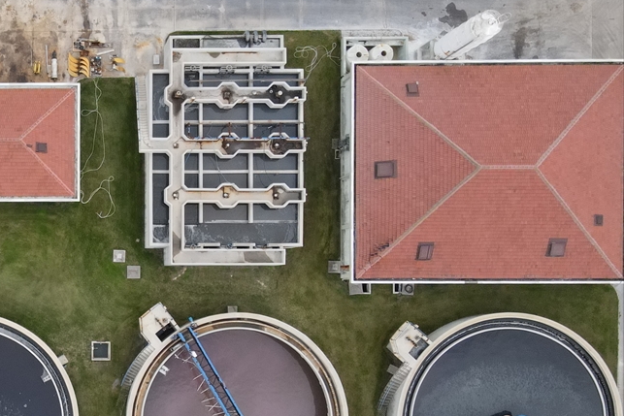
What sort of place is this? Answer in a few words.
industrial area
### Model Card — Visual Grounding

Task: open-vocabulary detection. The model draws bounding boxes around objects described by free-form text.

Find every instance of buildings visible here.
[0,84,81,203]
[332,61,624,283]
